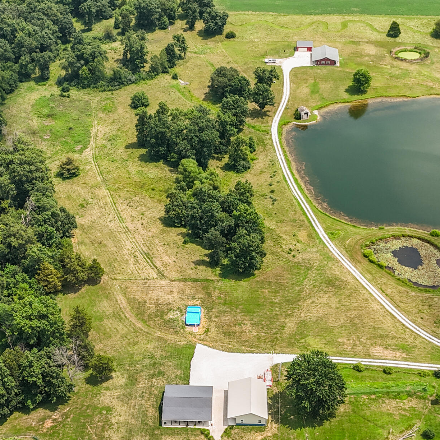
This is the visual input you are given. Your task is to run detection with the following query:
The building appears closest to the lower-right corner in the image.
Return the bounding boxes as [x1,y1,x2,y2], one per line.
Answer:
[226,377,267,426]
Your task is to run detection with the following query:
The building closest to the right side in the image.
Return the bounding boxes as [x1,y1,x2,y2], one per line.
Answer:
[313,44,340,66]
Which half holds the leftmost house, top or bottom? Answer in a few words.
bottom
